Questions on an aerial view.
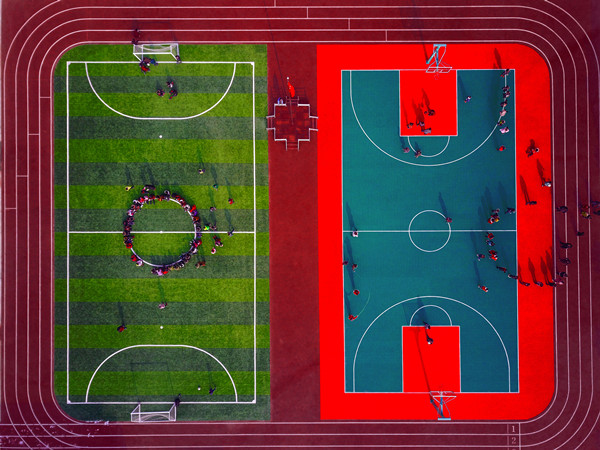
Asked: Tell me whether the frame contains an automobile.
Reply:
No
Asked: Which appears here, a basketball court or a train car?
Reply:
basketball court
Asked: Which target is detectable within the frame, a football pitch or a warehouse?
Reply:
football pitch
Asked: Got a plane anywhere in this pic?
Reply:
No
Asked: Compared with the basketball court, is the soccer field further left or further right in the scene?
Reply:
left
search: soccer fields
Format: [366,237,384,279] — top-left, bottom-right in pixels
[54,44,271,420]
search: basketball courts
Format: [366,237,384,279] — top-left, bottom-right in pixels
[317,43,555,420]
